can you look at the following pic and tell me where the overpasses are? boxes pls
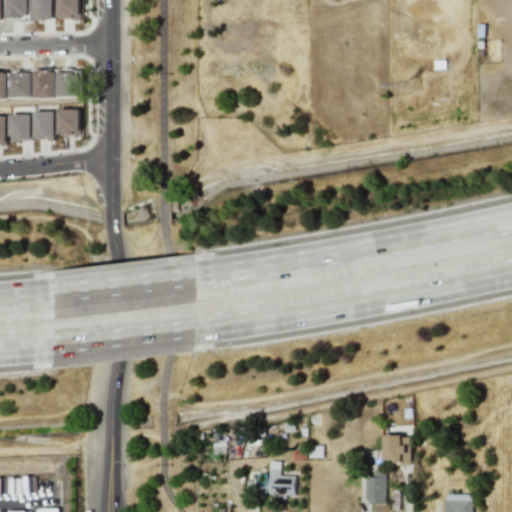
[48,250,202,370]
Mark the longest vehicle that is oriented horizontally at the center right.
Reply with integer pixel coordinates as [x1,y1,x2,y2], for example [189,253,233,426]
[386,298,430,312]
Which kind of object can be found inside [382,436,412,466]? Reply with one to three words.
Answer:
house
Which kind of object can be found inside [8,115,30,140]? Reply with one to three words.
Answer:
house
